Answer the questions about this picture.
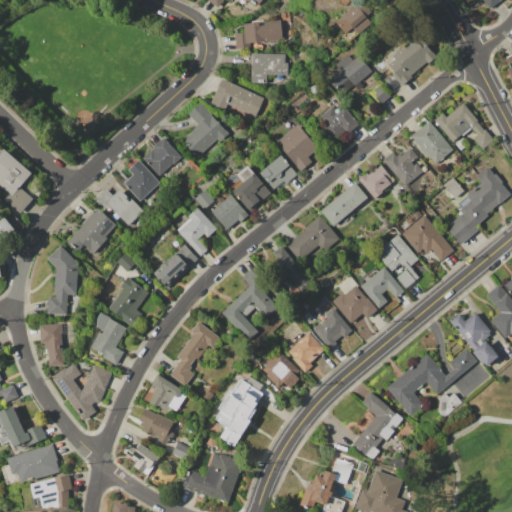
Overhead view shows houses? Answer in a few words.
Yes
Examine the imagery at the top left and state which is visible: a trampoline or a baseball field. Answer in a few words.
baseball field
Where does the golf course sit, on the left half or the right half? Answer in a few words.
right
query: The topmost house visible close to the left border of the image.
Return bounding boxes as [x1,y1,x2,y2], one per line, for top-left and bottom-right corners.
[0,149,31,195]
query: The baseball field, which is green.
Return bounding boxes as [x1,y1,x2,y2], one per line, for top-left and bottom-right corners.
[1,4,186,124]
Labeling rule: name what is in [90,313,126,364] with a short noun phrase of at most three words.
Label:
house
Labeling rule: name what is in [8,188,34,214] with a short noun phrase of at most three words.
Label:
house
